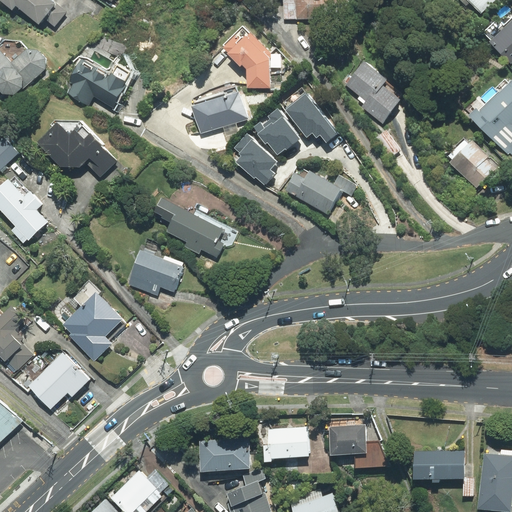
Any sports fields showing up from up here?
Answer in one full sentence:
No, there is no sports field in the image.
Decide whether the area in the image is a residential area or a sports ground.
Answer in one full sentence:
The picture captures a residential area.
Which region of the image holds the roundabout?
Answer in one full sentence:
The roundabout is in the bottom part of the image.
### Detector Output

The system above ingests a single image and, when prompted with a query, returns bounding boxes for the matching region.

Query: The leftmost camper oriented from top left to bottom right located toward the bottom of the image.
[34,316,51,334]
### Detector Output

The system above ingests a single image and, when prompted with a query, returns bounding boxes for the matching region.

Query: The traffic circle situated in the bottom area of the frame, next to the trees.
[190,352,237,400]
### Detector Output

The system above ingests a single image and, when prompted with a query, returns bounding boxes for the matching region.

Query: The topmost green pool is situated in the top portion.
[90,50,113,70]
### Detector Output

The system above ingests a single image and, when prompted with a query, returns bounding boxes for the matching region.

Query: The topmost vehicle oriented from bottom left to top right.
[214,51,228,66]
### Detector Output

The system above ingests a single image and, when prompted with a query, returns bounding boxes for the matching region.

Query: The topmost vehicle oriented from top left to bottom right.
[296,35,310,51]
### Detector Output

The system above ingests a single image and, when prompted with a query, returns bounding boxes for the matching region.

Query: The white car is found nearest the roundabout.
[182,354,196,370]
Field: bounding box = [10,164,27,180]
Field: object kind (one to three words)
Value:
vehicle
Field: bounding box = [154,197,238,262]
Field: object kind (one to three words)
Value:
house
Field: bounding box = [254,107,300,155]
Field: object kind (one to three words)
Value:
house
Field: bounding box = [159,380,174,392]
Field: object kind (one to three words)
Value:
vehicle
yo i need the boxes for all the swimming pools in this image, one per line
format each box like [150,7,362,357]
[90,50,113,70]
[480,86,498,104]
[497,6,512,18]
